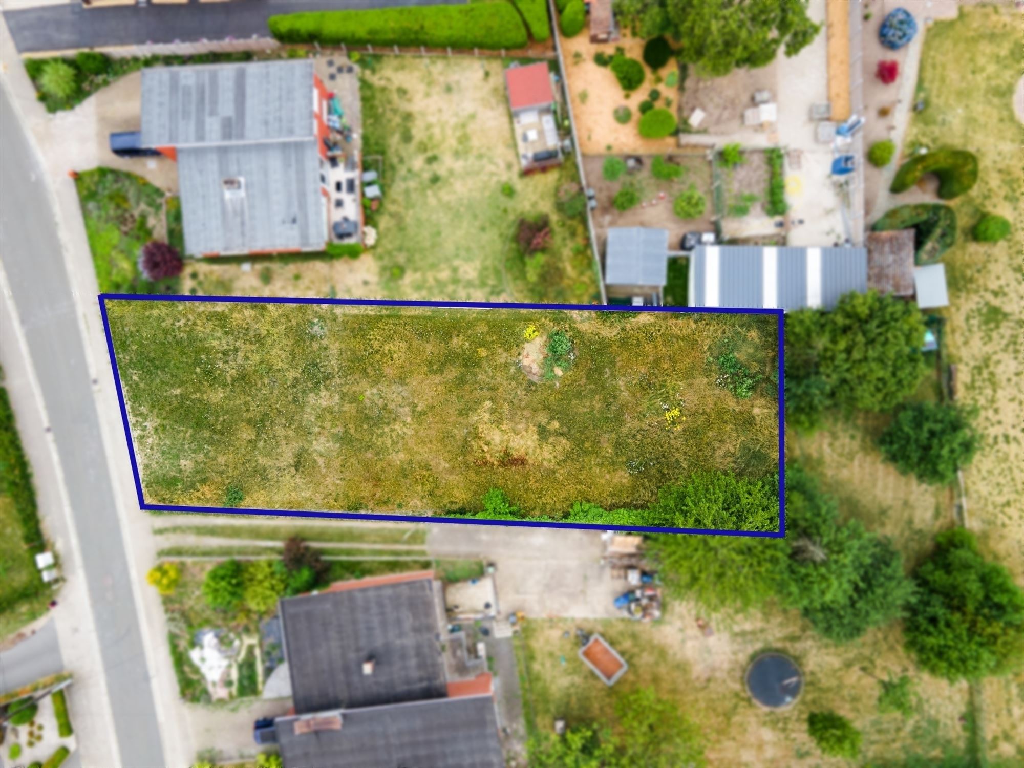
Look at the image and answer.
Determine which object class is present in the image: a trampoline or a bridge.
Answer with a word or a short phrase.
trampoline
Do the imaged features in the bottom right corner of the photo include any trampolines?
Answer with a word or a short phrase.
Yes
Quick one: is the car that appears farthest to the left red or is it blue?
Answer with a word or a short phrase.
blue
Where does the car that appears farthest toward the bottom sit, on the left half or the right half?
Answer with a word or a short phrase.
left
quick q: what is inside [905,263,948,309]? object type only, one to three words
shed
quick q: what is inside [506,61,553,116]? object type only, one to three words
shed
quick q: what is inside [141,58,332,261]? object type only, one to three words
house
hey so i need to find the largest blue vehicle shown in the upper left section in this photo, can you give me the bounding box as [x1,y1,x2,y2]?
[110,130,167,160]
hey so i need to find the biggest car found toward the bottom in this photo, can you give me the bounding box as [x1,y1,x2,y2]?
[257,716,278,748]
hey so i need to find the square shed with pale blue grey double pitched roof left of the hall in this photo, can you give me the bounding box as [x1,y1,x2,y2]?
[604,226,668,285]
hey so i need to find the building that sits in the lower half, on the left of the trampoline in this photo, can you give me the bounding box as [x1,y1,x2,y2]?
[275,571,500,768]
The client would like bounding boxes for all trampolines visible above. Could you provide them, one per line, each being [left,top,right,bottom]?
[744,651,802,709]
